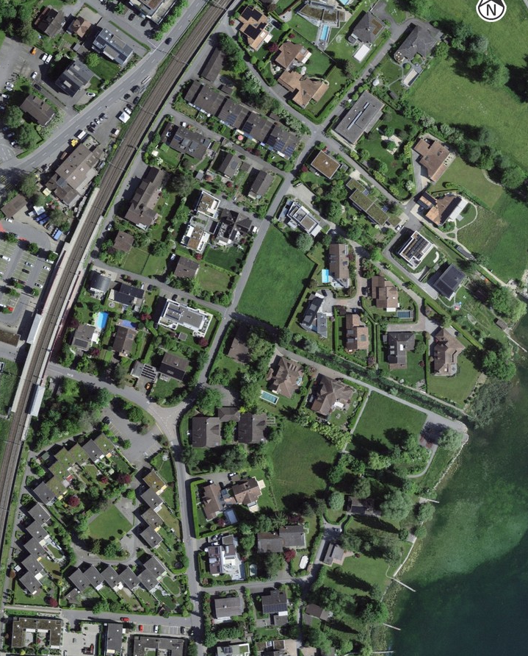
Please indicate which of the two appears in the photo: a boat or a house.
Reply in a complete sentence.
Of the two, only a house appears.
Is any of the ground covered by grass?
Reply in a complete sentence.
Yes, there's grass in this view.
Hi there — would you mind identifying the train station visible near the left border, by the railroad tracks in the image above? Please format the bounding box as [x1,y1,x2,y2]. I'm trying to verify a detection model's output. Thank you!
[11,184,105,441]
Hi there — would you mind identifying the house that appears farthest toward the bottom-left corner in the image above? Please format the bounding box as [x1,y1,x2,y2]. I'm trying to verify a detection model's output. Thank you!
[11,616,64,648]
